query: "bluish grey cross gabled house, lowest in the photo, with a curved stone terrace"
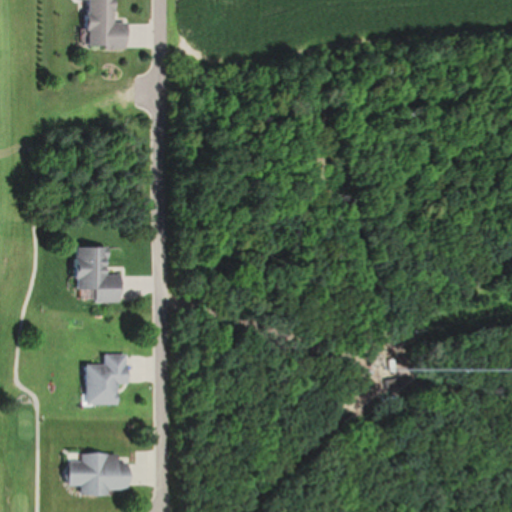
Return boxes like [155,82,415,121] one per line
[68,453,132,497]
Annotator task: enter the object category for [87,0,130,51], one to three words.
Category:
house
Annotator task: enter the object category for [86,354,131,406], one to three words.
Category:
house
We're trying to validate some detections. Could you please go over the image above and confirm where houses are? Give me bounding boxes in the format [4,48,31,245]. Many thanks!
[87,0,130,51]
[68,453,132,497]
[86,354,131,406]
[76,248,124,304]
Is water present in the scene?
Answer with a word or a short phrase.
No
